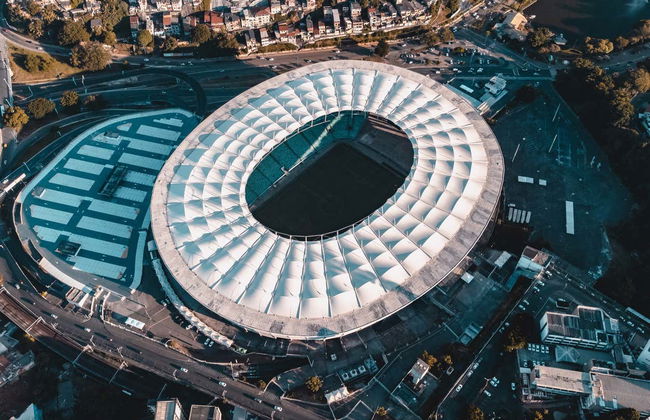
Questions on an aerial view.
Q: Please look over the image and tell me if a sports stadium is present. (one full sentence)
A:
Yes, a sports stadium is visible in the scene.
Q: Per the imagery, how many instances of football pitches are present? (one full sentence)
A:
The photo contains exactly 1 football pitch.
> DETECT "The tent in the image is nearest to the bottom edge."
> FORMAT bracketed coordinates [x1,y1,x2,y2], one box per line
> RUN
[322,386,351,407]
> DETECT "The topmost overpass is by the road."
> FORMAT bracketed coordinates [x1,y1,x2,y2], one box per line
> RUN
[90,63,206,117]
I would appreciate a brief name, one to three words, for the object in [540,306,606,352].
building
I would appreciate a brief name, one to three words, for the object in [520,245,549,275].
building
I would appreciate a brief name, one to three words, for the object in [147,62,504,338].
stadium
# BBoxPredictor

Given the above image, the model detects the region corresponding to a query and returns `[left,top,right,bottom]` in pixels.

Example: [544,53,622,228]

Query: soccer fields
[252,132,406,239]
